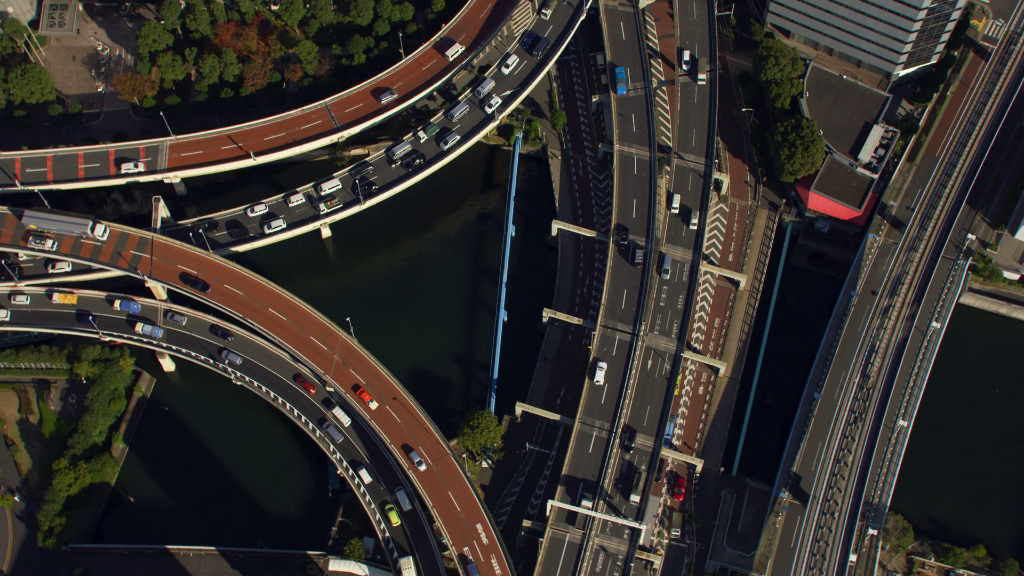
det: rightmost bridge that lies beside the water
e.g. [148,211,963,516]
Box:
[747,0,1024,576]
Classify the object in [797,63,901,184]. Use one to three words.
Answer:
building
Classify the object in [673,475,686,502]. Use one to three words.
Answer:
vehicle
